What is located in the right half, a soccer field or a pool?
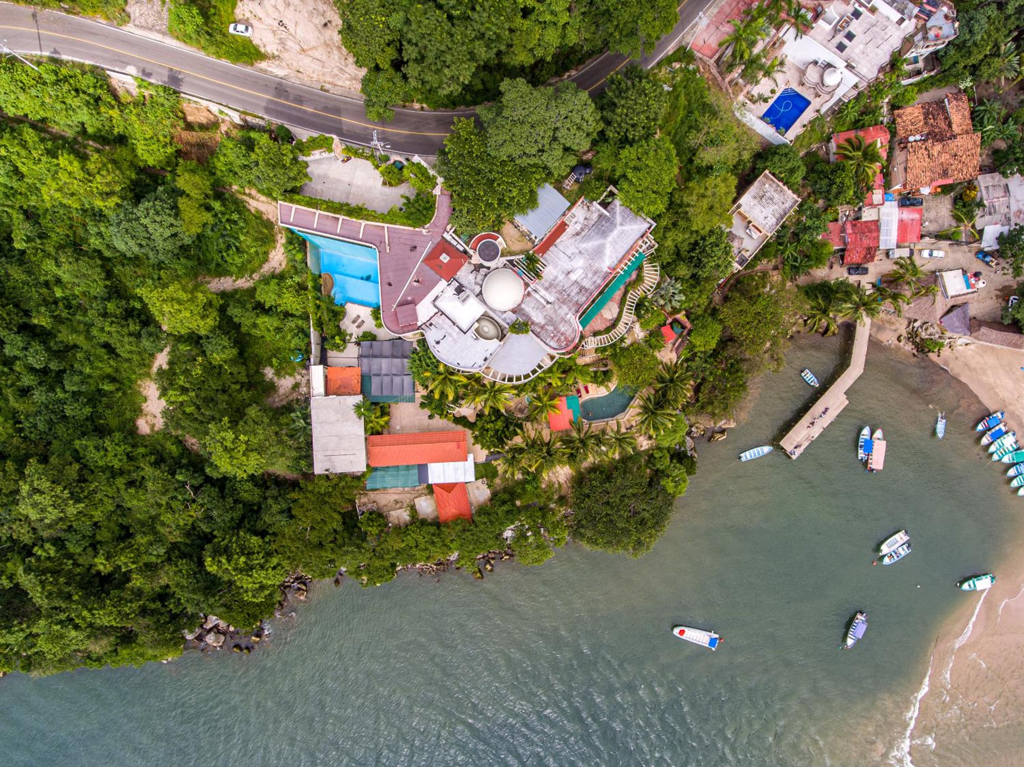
pool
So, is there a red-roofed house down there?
Yes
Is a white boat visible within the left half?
No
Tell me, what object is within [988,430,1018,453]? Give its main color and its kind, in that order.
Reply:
white boat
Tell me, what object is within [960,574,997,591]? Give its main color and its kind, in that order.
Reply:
white boat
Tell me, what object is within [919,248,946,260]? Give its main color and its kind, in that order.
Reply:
white vehicle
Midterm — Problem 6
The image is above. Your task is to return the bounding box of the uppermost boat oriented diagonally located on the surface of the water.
[800,368,820,387]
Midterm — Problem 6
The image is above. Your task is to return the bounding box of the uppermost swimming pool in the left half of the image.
[285,227,416,345]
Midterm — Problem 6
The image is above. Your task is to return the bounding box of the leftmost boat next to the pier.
[737,447,774,463]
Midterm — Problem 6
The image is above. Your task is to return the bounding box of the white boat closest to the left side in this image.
[673,628,719,650]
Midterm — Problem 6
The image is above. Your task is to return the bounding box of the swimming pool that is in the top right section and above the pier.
[761,87,813,136]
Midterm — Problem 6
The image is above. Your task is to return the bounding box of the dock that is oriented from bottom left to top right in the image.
[778,316,871,459]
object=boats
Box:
[857,426,874,462]
[960,574,997,591]
[879,530,911,555]
[936,414,946,439]
[991,440,1021,461]
[737,447,774,463]
[975,409,1006,431]
[866,427,888,473]
[988,430,1018,453]
[1005,463,1024,477]
[846,611,868,649]
[882,544,913,564]
[979,423,1009,445]
[800,368,820,387]
[1000,450,1024,464]
[673,628,719,650]
[1009,474,1024,488]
